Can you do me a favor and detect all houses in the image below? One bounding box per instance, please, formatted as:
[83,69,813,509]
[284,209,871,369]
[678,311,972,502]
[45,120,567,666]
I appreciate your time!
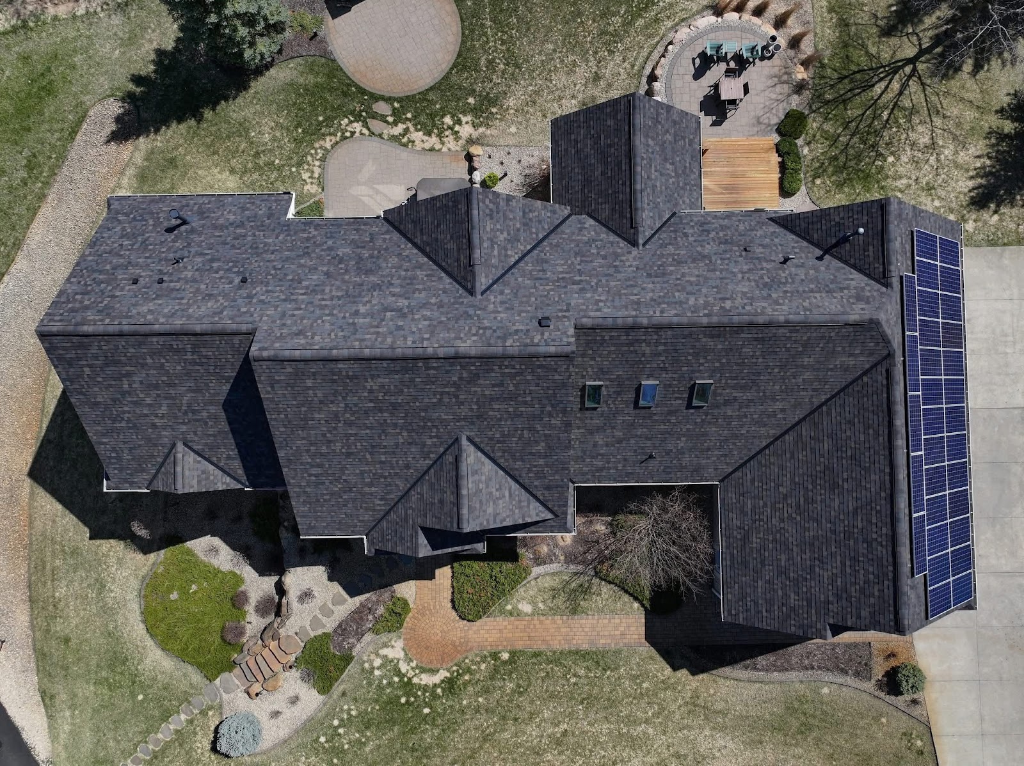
[37,92,979,639]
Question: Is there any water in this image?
No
